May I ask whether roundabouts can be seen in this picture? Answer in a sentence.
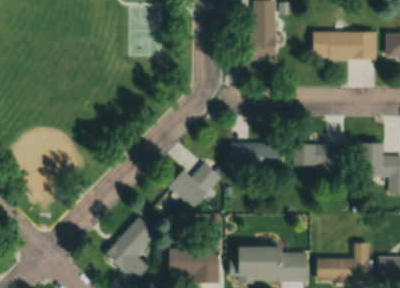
No, the frame has no roundabout in it.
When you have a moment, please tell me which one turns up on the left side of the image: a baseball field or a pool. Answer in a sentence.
You can see a baseball field on the left side of the image.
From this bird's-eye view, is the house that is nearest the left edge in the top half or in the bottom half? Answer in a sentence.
The bottom half of the photo is where the house that is nearest the left edge is.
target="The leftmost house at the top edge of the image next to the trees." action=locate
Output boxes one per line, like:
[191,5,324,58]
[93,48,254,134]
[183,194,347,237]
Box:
[253,0,276,60]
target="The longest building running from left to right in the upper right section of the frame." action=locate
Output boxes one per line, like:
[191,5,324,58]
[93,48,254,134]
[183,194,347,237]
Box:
[314,32,378,60]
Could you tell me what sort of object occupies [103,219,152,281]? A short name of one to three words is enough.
house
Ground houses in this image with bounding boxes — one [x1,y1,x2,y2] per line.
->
[314,32,378,60]
[294,143,342,166]
[386,33,400,56]
[169,248,220,282]
[378,256,400,279]
[230,142,282,164]
[170,162,220,206]
[230,246,308,282]
[253,0,276,60]
[317,242,370,281]
[362,142,400,194]
[103,219,152,281]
